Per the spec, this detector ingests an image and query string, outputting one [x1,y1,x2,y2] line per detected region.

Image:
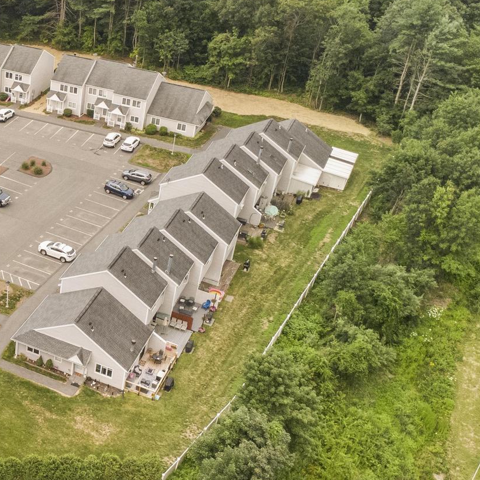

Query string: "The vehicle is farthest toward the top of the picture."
[0,107,16,122]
